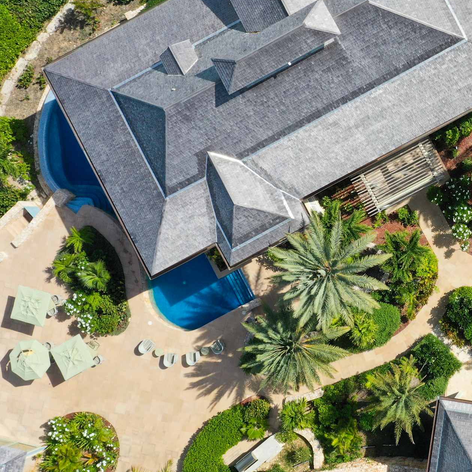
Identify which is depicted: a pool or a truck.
pool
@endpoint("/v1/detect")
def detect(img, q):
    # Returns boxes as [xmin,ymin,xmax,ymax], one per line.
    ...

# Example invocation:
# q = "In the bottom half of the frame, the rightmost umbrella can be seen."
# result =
[47,334,97,382]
